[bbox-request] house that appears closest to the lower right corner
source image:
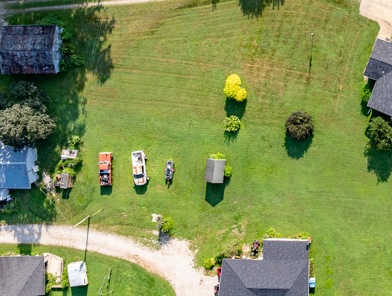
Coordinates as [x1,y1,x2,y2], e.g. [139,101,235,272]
[219,240,314,296]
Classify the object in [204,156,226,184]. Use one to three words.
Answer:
shed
